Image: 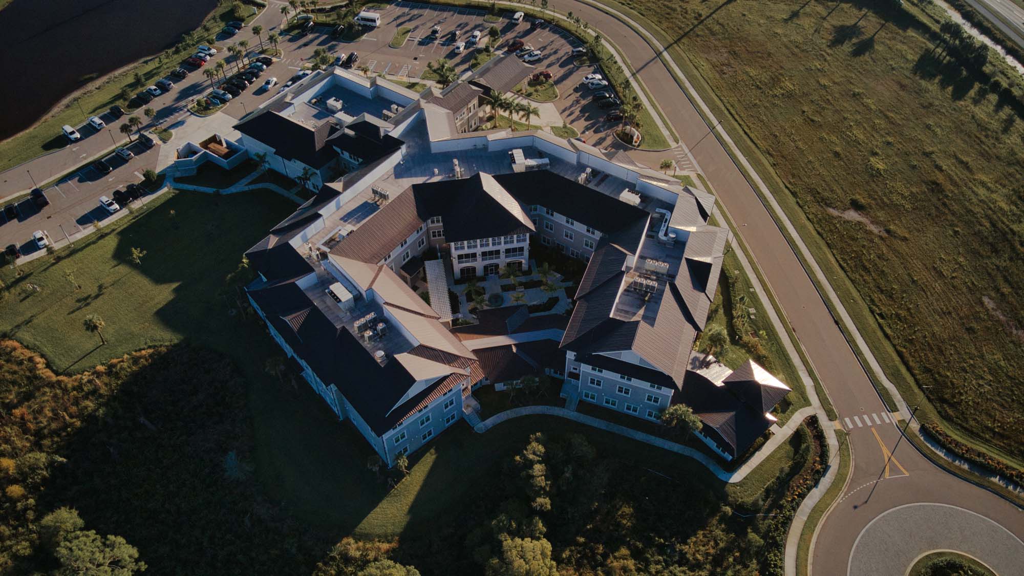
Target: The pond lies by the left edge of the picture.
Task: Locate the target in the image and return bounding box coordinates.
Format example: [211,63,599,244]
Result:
[0,0,219,140]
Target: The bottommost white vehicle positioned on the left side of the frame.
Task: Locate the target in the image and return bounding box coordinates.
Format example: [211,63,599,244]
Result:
[32,230,49,249]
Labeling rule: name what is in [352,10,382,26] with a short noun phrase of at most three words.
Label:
vehicle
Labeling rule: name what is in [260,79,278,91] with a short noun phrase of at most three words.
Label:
vehicle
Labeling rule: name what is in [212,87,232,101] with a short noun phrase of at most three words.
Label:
car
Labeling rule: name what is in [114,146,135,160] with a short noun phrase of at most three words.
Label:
car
